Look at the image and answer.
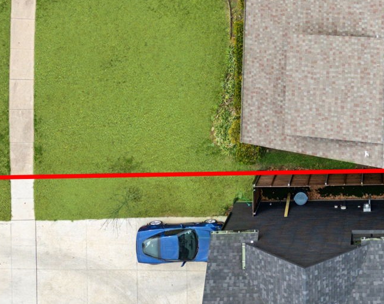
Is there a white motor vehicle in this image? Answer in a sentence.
No, no white motor vehicle is visible in the view.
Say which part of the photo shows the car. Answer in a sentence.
Look in the bottom portion of the view to spot the car.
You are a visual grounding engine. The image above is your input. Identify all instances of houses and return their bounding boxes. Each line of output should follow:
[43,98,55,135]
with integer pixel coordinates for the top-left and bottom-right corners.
[207,197,384,304]
[239,0,384,170]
